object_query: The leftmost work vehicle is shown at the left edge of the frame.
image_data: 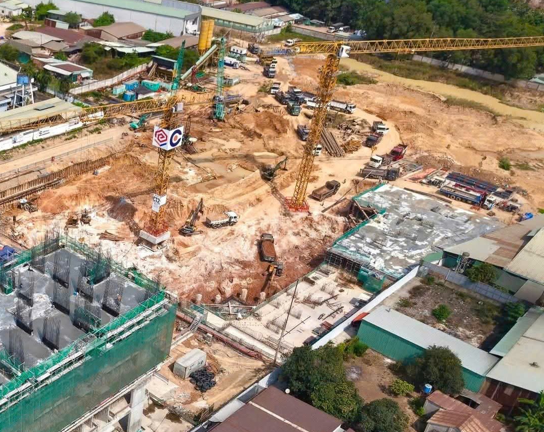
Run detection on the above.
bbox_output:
[5,193,34,212]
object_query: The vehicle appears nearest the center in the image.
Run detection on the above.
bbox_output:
[260,231,278,257]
